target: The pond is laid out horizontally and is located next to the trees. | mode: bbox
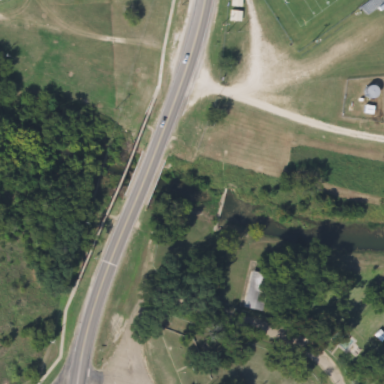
[216,190,384,253]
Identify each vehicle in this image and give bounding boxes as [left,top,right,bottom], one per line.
[160,118,166,128]
[183,54,189,64]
